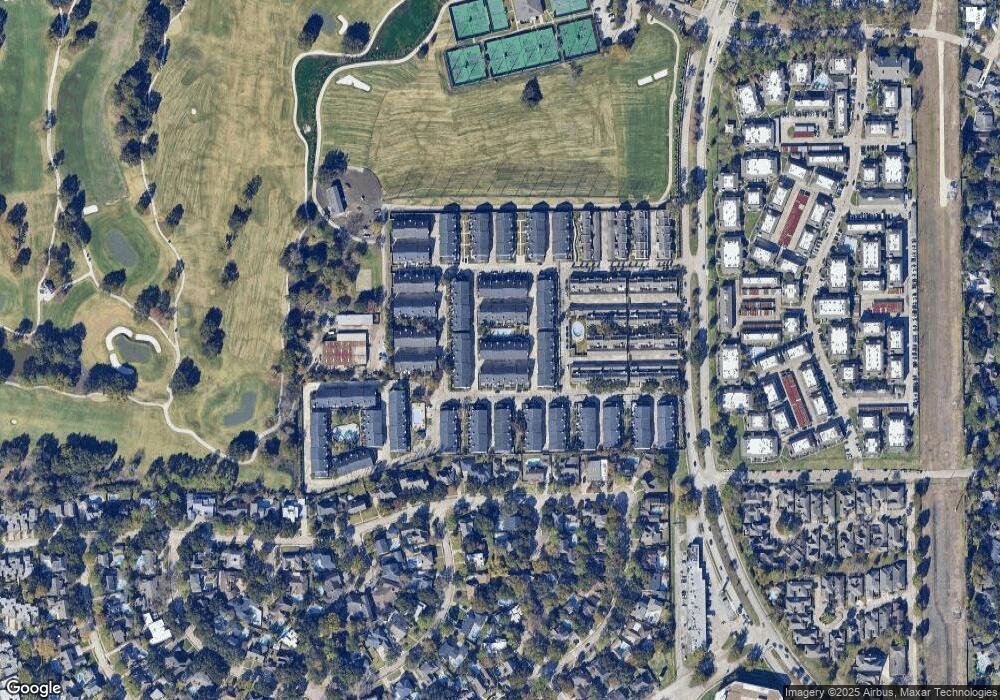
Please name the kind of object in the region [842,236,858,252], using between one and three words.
swimming pool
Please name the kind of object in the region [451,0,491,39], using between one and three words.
tennis court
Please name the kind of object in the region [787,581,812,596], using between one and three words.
house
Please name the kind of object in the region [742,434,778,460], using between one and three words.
building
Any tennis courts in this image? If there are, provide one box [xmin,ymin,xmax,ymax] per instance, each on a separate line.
[451,0,491,39]
[486,28,560,76]
[559,19,598,59]
[447,44,488,85]
[553,0,590,17]
[485,0,511,29]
